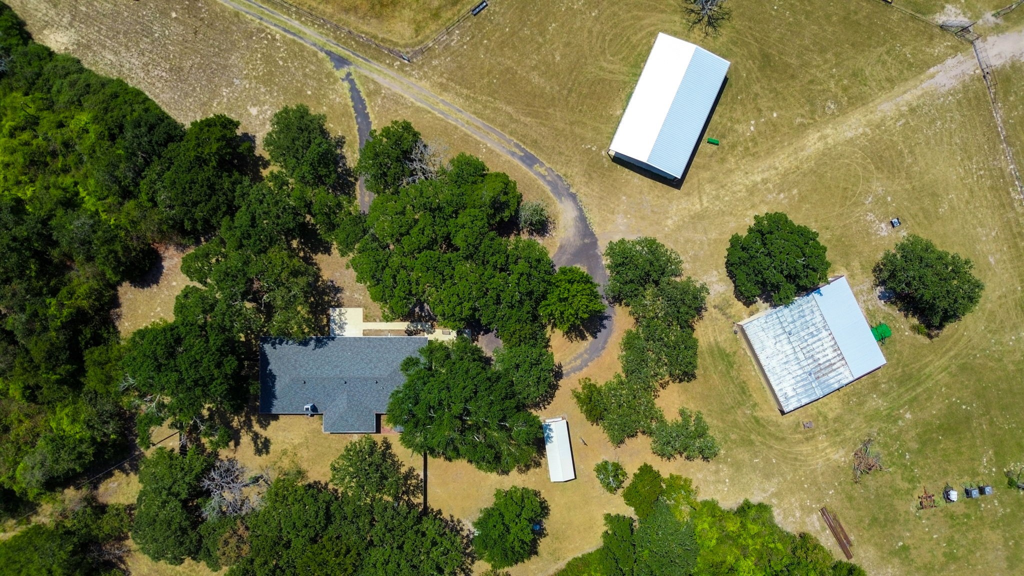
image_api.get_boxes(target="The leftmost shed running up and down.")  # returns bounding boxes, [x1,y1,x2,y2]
[542,417,575,482]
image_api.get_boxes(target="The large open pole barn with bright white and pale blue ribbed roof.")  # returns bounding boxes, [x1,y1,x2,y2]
[607,32,730,182]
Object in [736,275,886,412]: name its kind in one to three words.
shed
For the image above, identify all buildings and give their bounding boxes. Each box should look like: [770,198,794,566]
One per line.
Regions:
[607,32,730,182]
[542,417,575,482]
[259,336,436,433]
[736,275,886,412]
